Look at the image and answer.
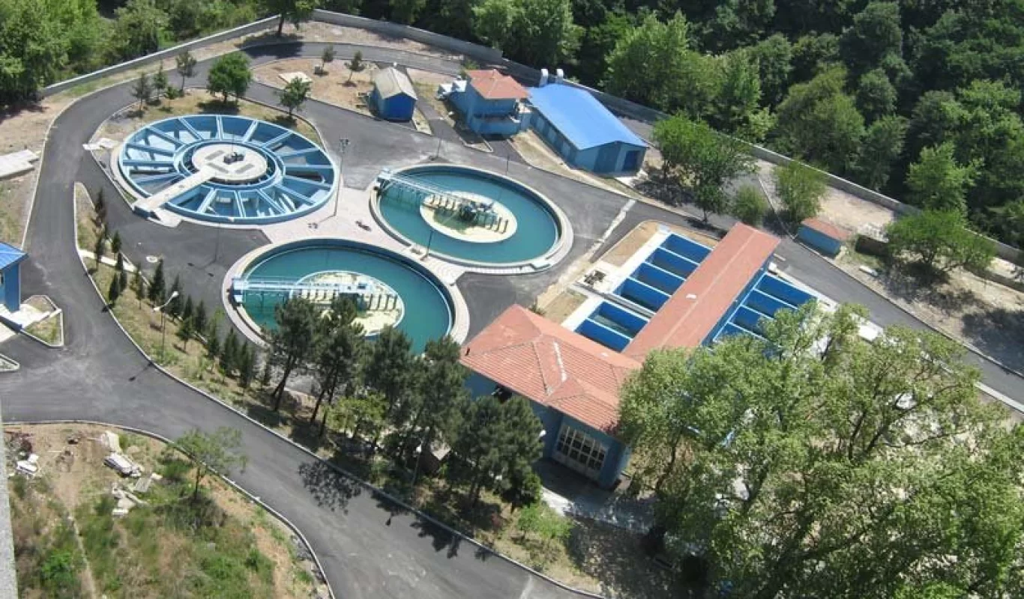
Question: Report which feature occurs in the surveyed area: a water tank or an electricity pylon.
water tank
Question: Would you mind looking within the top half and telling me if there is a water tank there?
Yes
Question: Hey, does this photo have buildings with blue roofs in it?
Yes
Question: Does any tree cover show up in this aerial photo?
Yes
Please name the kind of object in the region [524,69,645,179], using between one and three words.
building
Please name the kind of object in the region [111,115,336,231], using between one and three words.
water tank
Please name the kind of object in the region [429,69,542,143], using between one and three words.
building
